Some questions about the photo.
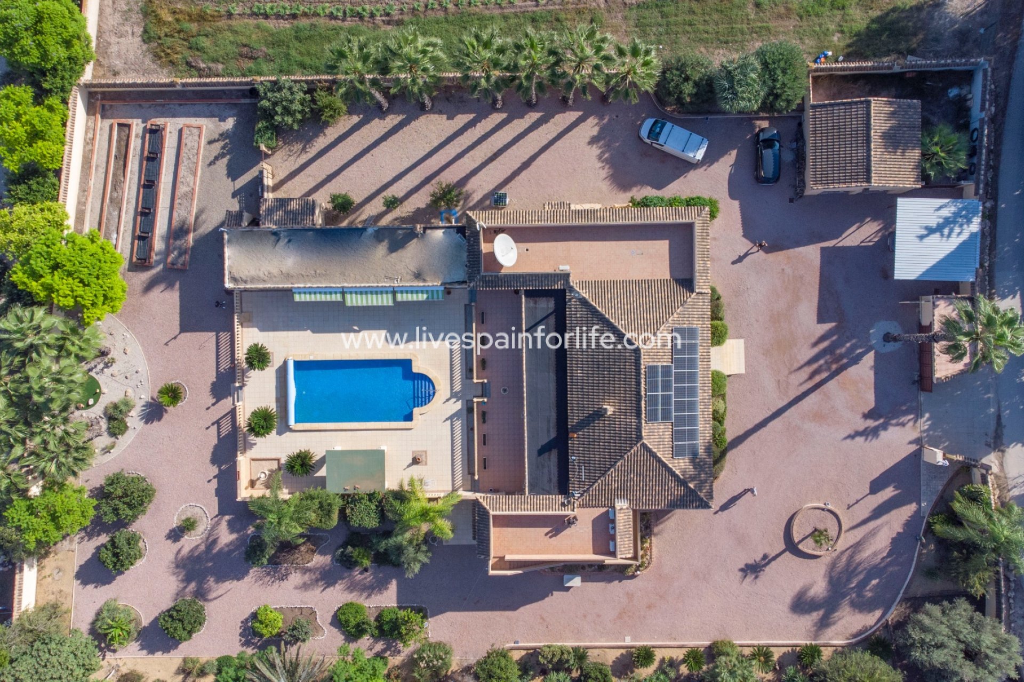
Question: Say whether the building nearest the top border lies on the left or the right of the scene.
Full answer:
The building nearest the top border appears in the right half of the scene.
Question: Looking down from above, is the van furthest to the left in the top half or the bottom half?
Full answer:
The van furthest to the left is in the top half of the image.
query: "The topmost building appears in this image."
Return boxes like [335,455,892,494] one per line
[799,96,923,195]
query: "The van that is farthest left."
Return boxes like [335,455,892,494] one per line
[633,117,711,168]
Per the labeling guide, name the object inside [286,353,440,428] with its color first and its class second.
blue swimming pool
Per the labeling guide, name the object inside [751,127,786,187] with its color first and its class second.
black car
